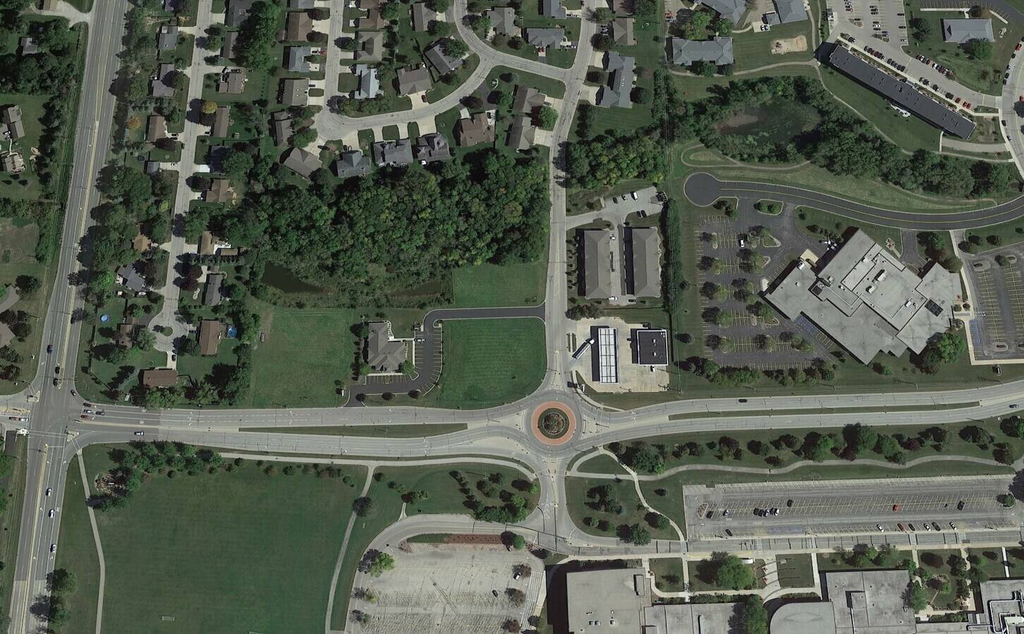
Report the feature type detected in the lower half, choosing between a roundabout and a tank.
roundabout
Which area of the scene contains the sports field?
bottom left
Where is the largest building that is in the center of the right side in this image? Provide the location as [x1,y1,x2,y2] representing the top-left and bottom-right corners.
[764,228,962,365]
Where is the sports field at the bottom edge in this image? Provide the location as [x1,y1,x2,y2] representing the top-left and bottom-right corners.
[89,464,361,634]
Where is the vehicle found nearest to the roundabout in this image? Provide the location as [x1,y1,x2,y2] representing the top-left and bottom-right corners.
[573,339,595,357]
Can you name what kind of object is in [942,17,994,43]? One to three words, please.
building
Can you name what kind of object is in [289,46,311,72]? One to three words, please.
house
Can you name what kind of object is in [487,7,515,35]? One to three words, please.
house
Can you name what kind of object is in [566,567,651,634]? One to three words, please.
building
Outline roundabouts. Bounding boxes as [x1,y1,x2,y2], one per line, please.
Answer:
[521,390,587,457]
